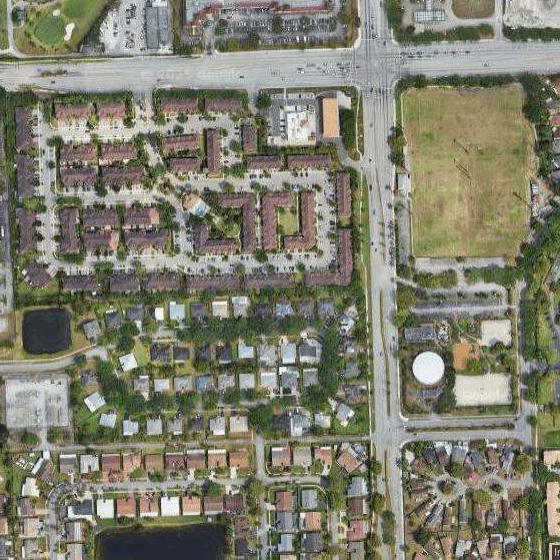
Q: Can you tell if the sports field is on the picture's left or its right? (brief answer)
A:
right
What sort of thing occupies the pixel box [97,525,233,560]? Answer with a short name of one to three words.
pond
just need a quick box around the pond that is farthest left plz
[23,310,69,354]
